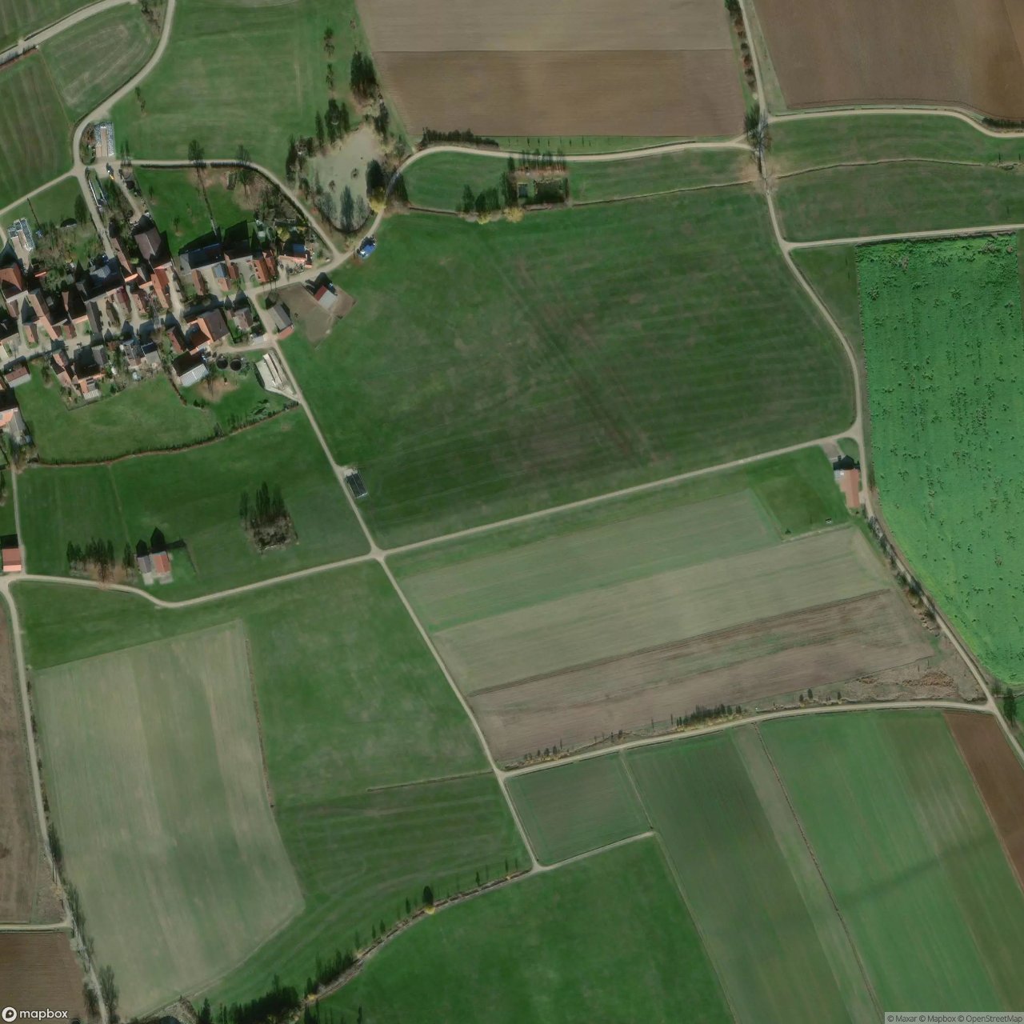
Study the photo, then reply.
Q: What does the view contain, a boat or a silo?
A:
silo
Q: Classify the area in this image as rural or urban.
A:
rural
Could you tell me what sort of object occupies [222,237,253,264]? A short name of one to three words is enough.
barn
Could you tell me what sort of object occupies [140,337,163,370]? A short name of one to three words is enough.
shed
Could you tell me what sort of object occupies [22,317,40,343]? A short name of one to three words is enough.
house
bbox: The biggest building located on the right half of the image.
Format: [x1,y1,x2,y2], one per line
[838,464,861,508]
